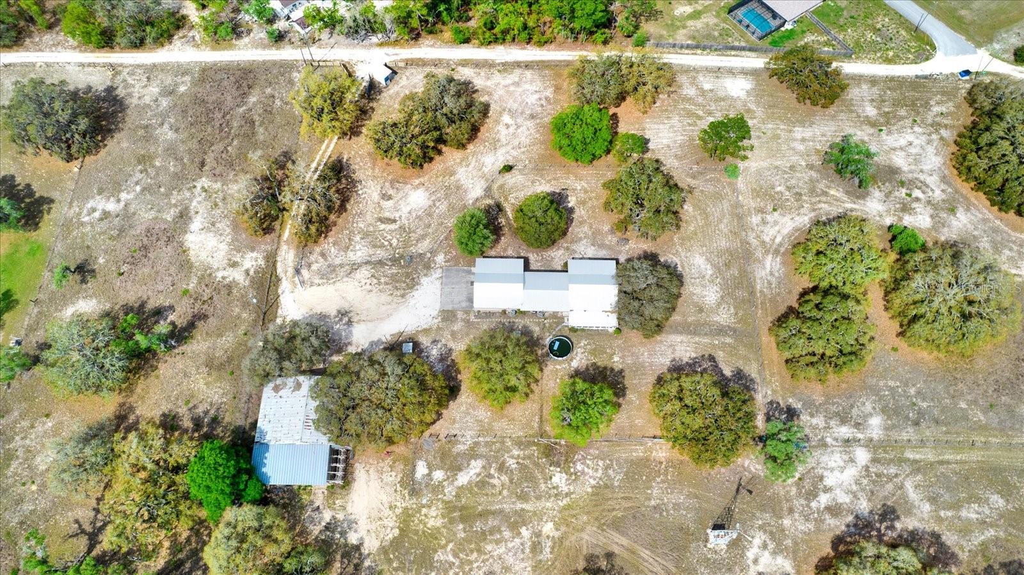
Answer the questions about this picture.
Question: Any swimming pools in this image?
Yes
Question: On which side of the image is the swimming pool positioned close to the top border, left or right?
right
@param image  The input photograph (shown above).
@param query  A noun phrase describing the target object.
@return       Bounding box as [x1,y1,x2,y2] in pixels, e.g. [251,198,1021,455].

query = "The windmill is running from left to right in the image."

[709,525,753,547]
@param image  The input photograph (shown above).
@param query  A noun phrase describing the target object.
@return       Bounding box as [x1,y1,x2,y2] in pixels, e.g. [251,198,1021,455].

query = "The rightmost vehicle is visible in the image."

[959,68,975,80]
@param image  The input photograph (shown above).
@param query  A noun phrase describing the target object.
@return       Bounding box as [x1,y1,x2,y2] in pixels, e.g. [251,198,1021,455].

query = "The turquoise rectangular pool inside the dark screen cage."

[741,7,773,32]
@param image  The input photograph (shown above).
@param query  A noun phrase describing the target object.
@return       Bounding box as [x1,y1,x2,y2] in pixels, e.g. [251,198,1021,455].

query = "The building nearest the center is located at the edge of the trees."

[473,258,618,336]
